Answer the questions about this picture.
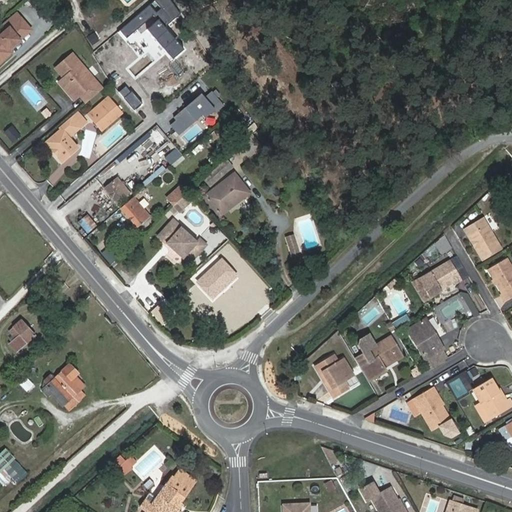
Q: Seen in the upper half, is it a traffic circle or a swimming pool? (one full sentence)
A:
You can see a swimming pool in the upper half.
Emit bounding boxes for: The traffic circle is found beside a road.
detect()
[190,364,283,454]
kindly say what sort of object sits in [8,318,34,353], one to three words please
house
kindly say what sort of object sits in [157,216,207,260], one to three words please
house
